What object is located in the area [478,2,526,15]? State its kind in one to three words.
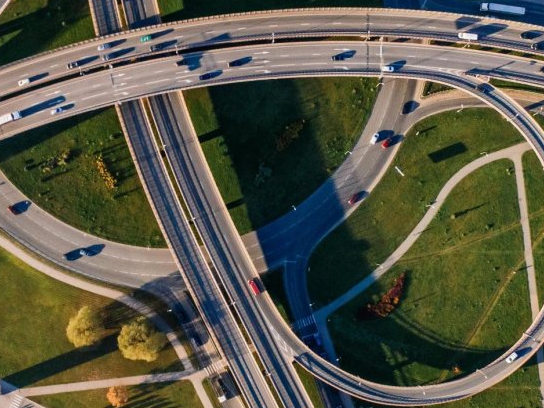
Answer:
vehicle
